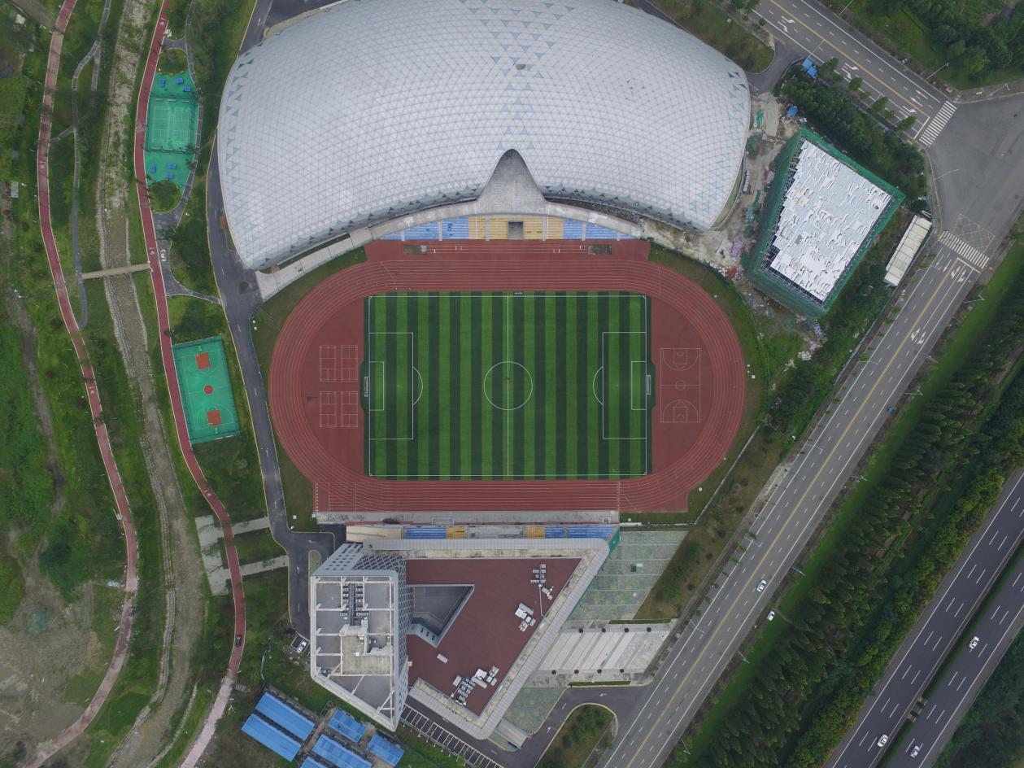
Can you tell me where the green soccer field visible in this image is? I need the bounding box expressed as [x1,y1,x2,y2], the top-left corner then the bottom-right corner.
[360,292,655,480]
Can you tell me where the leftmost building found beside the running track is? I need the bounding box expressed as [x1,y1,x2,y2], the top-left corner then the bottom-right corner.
[310,545,416,731]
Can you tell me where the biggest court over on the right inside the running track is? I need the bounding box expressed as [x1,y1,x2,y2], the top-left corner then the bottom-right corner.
[660,348,701,423]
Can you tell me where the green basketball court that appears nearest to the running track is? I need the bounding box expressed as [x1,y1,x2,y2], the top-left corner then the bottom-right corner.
[173,336,239,444]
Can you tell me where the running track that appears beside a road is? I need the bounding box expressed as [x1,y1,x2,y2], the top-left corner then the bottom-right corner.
[269,240,746,512]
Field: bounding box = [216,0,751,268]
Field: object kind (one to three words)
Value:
stadium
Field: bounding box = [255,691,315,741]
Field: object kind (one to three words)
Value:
shed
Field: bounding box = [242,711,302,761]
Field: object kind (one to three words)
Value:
shed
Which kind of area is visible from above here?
sports ground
